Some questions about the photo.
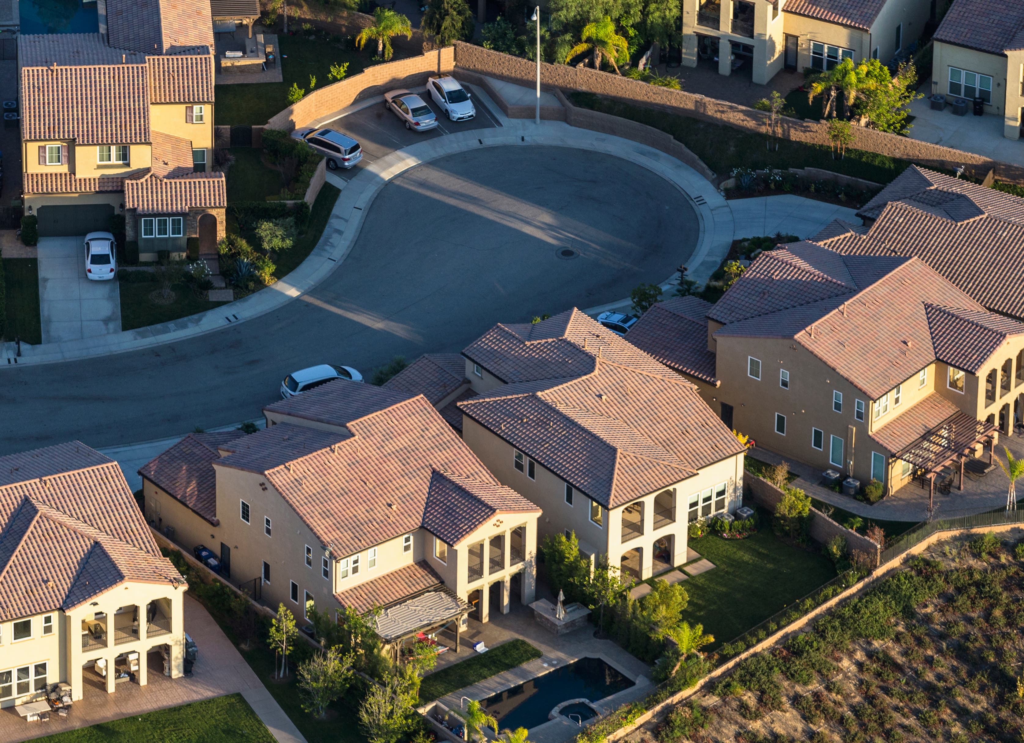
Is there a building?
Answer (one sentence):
Yes, the picture does show a building.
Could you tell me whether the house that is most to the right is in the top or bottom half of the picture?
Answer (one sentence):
It is in the top half that the house that is most to the right appears.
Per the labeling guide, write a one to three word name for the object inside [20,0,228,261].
house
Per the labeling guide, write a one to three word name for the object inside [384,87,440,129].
car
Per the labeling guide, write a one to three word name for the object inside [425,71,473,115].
car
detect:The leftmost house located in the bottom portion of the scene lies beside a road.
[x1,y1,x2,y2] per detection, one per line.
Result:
[0,438,191,709]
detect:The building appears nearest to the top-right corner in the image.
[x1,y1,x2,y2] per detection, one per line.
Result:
[931,0,1024,141]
